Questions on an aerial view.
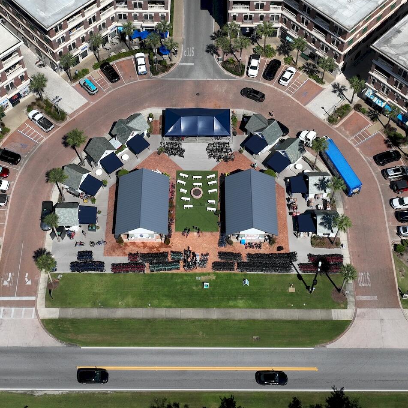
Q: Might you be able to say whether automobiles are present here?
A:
Yes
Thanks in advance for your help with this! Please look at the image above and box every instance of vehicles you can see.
[255,370,288,386]
[78,77,99,97]
[294,131,322,149]
[264,58,281,81]
[390,179,408,193]
[248,54,259,78]
[99,60,122,84]
[27,109,55,133]
[382,165,408,180]
[39,201,52,231]
[0,150,23,166]
[77,368,110,384]
[280,66,295,87]
[373,150,402,166]
[397,226,408,237]
[240,87,266,105]
[390,196,408,210]
[135,54,148,75]
[0,195,8,207]
[395,211,408,224]
[0,166,11,180]
[0,180,11,193]
[280,124,295,142]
